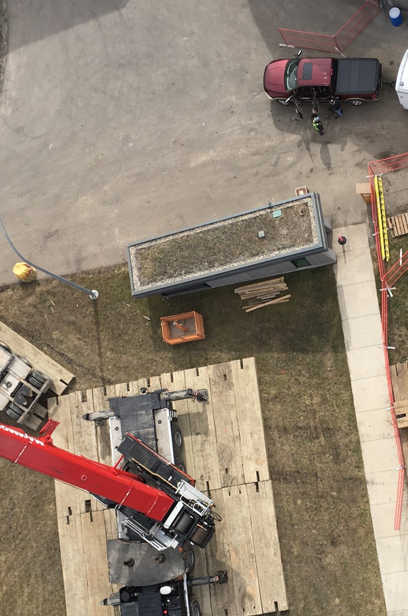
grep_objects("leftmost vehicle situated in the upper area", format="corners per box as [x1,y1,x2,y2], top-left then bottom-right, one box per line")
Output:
[265,44,385,118]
